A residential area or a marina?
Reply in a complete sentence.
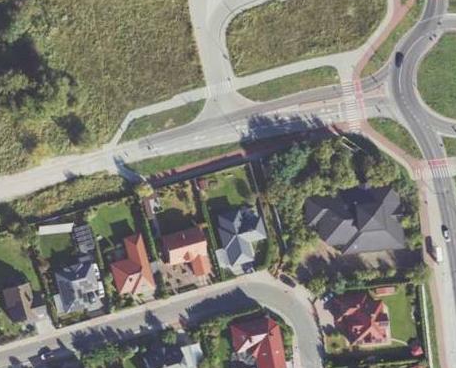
The picture captures a residential area.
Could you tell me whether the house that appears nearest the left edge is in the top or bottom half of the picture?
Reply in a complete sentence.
The bottom half of the photo is where the house that appears nearest the left edge is.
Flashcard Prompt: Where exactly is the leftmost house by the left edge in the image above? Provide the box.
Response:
[2,282,50,323]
